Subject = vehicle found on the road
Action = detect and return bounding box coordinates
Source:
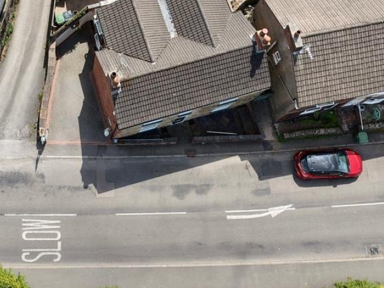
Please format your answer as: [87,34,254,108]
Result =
[294,146,362,184]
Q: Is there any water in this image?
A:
No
